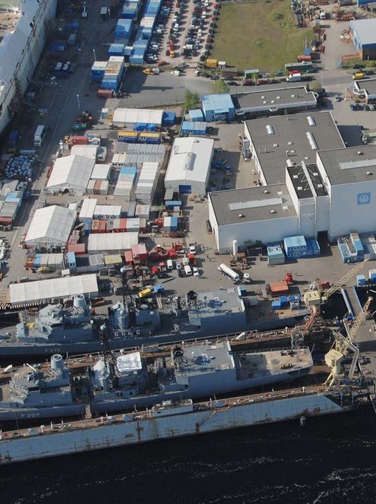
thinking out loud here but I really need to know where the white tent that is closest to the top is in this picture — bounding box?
[113,108,163,130]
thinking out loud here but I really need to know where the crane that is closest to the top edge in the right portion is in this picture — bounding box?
[295,264,367,339]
